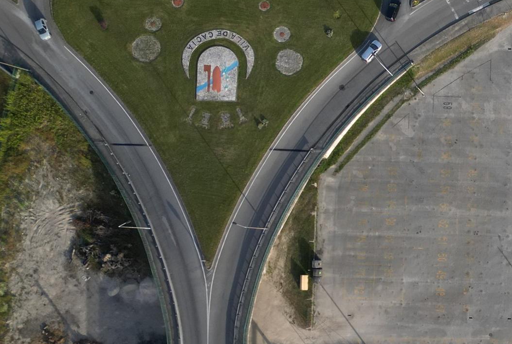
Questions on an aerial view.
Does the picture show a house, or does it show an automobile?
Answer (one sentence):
I can see an automobile in this picture.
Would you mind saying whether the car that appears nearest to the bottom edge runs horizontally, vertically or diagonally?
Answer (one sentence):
The car that appears nearest to the bottom edge has been laid out diagonally relative to the frame.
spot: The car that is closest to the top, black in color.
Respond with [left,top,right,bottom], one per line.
[384,0,398,23]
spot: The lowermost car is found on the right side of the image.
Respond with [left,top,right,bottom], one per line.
[359,38,383,63]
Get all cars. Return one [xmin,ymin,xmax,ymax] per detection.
[384,0,398,23]
[359,38,383,63]
[31,15,49,39]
